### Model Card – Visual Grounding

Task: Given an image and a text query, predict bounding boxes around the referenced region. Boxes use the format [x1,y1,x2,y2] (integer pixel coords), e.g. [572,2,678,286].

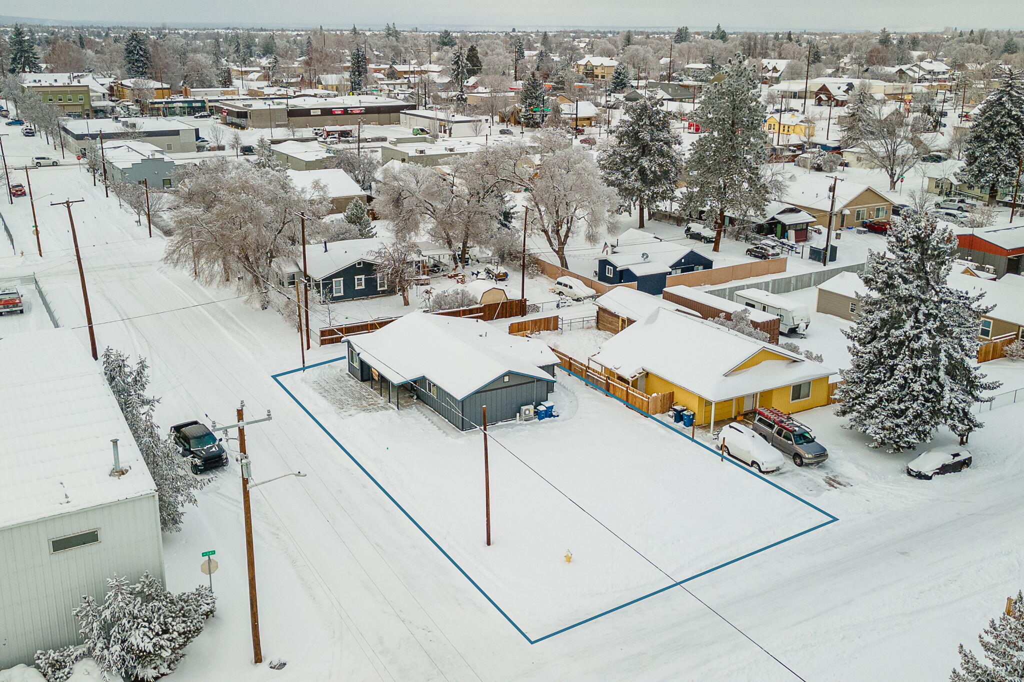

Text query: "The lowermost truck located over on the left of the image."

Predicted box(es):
[173,420,230,469]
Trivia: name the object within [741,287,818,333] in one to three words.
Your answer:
vehicle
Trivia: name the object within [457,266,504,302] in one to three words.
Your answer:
shed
